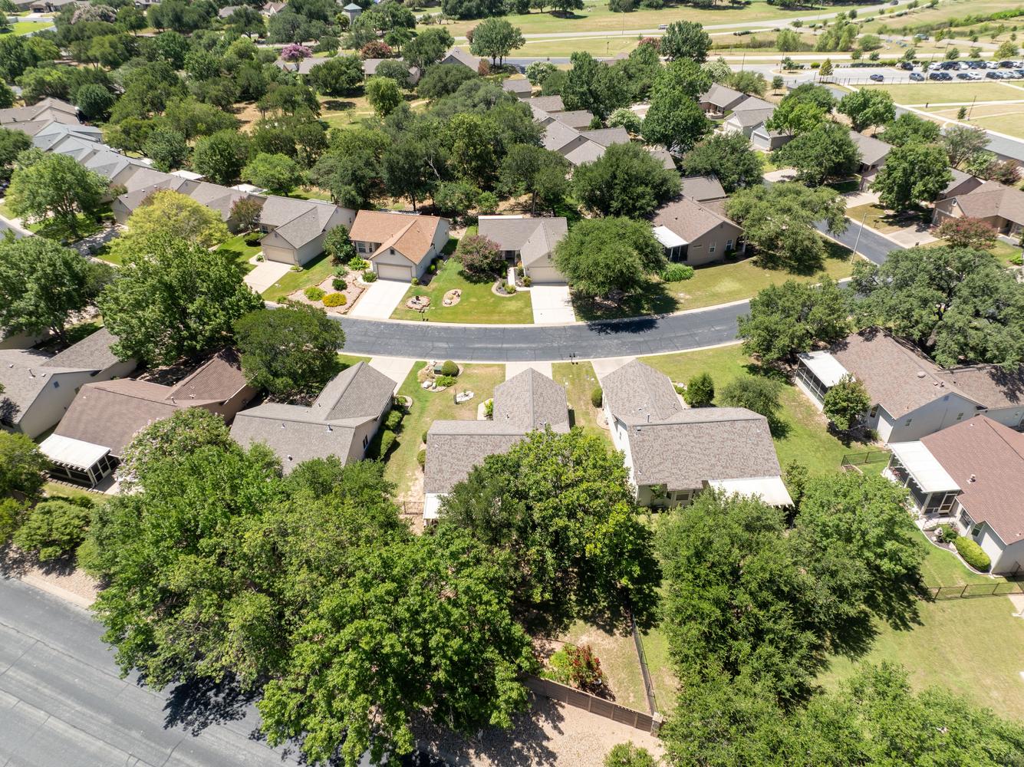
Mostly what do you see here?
trees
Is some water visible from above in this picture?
No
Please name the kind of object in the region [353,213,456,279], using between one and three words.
house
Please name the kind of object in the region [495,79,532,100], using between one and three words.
house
